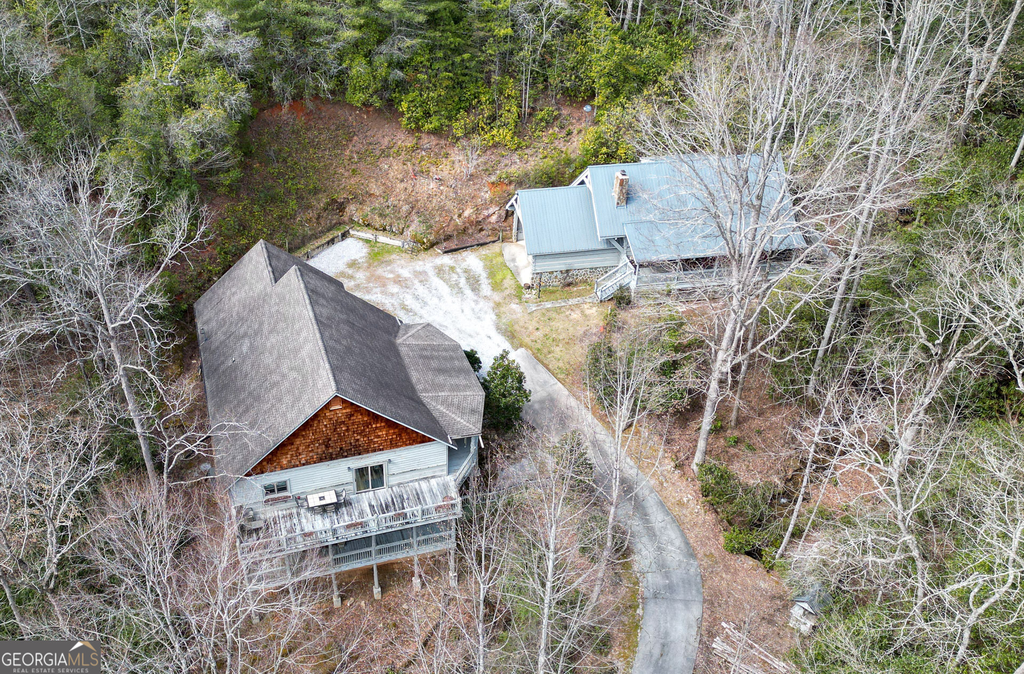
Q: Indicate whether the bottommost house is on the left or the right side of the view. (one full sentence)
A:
The bottommost house appears in the right half of the scene.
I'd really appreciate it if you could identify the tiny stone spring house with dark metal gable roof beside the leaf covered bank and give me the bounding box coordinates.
[789,588,830,635]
